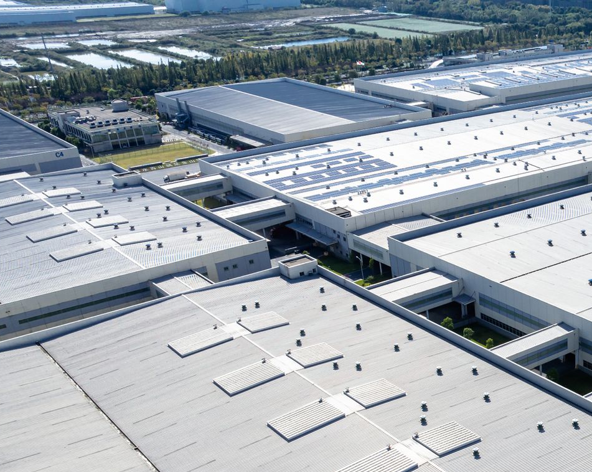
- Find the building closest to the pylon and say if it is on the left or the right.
left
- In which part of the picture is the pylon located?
top left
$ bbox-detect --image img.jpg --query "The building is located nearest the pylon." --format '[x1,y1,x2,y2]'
[0,2,76,25]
